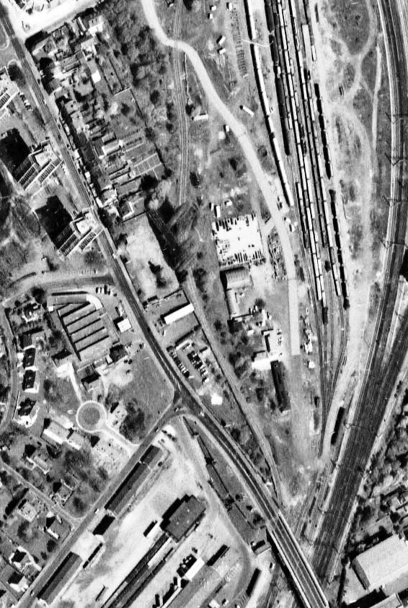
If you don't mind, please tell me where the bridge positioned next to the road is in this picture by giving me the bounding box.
[267,509,325,608]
